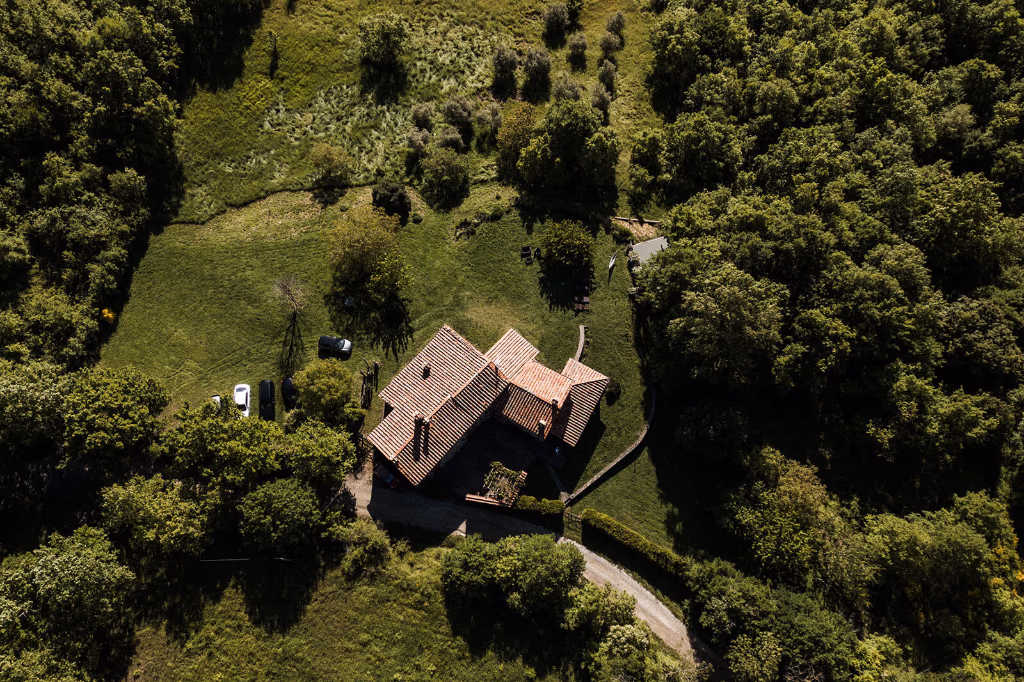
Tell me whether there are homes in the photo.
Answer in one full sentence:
Yes, this view includes a home.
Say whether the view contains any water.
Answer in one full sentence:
No, the scene doesn't show any water.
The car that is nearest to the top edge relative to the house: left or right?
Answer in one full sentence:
From the viewer's perspective, the car that is nearest to the top edge falls to the left of the house.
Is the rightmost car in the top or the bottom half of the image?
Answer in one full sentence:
The bottom half of the photo is where the rightmost car is.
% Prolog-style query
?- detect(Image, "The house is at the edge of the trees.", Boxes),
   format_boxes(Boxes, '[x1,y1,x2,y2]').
[366,327,610,490]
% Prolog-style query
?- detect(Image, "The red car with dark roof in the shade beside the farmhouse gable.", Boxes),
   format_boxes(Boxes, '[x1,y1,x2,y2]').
[369,463,401,495]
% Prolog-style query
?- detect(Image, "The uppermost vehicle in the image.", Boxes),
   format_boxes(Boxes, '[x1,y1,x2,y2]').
[317,338,353,359]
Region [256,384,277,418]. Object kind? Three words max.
car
